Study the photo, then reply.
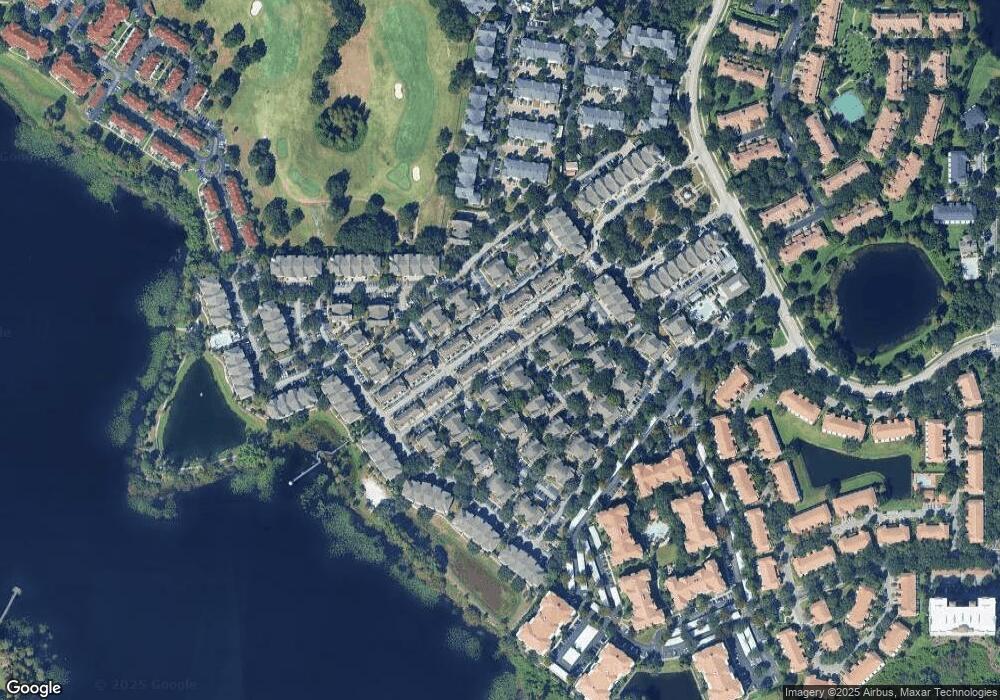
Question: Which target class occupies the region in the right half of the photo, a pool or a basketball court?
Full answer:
The one visible in the right half of the photo is a pool.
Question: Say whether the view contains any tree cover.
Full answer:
Yes, there is tree cover in the image.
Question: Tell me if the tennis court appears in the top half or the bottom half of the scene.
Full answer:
Seen from above, the tennis court lies in the top half of the view.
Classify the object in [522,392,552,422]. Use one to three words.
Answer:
house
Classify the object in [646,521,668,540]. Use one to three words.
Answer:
swimming pool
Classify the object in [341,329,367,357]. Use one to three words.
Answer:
house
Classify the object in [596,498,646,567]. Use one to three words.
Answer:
building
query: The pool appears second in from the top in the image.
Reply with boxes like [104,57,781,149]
[691,296,722,322]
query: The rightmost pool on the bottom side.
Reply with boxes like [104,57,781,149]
[914,473,936,489]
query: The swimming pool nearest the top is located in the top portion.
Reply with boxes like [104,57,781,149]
[962,258,979,279]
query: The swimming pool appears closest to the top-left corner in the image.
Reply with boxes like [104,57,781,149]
[210,329,232,348]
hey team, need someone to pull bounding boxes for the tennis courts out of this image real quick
[829,91,867,124]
